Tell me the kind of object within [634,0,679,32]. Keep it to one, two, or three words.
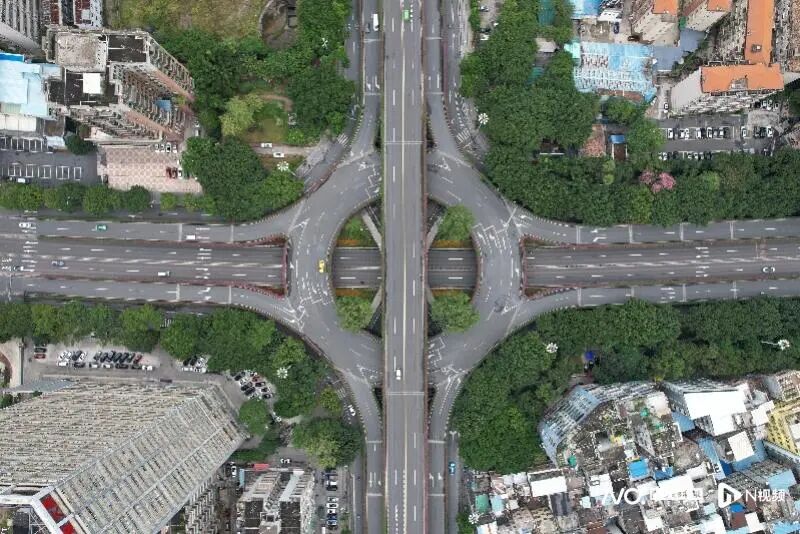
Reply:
building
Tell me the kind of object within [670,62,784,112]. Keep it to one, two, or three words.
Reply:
building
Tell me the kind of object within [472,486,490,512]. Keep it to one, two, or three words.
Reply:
house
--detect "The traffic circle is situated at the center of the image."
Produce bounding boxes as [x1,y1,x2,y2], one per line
[281,148,529,391]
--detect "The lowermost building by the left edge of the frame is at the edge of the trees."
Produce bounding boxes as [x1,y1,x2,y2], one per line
[0,383,245,534]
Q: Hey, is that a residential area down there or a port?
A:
residential area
